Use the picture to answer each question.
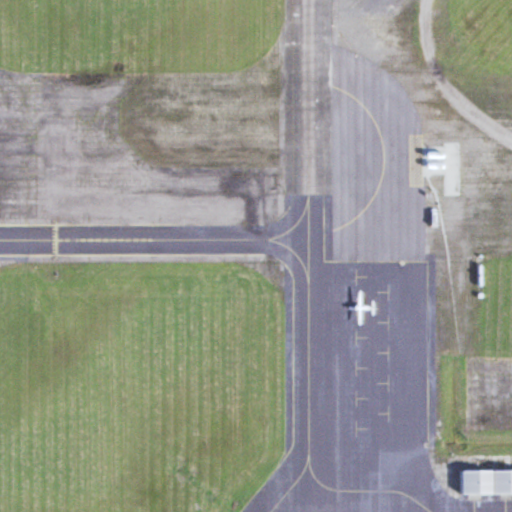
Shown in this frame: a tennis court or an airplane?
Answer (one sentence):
The image shows an airplane.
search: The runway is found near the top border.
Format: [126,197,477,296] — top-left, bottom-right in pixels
[286,0,332,196]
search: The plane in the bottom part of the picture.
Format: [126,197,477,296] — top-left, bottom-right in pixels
[348,290,377,326]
